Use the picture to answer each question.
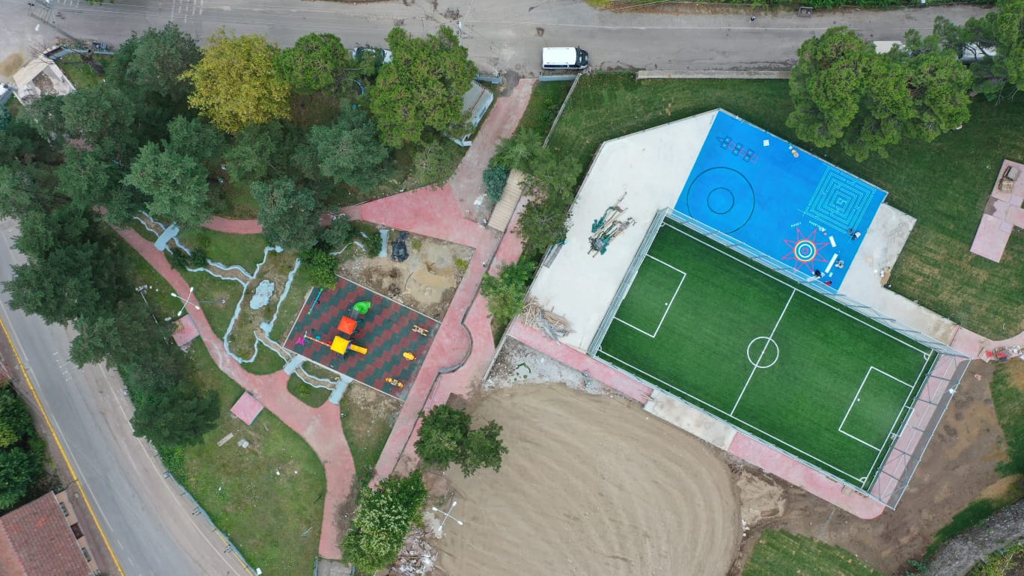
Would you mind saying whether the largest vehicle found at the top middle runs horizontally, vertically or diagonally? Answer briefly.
horizontally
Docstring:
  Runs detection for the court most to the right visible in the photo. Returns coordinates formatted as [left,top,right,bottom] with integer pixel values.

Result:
[673,111,886,297]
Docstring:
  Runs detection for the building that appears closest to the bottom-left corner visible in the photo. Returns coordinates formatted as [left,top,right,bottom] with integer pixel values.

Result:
[0,486,112,576]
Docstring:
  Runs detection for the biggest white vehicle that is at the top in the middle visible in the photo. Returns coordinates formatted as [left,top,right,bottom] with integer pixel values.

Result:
[543,47,588,69]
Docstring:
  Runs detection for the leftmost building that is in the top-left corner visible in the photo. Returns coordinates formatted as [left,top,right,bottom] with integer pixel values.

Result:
[11,55,73,109]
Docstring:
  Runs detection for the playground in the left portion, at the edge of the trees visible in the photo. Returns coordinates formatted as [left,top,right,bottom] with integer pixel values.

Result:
[285,278,440,401]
